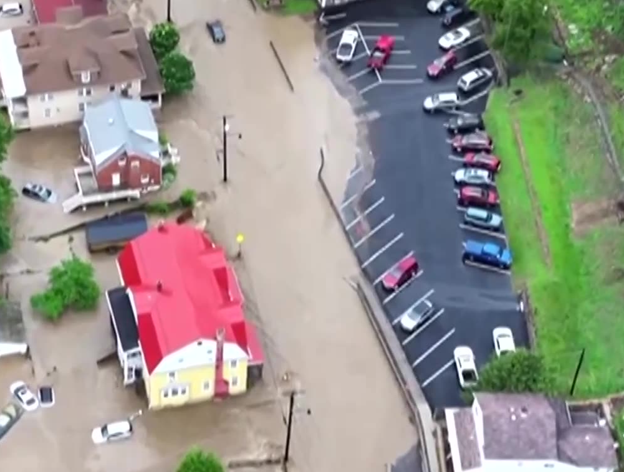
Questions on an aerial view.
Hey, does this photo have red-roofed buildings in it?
Yes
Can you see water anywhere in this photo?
Yes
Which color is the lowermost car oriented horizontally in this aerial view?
white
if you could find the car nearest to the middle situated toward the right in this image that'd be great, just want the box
[382,256,420,289]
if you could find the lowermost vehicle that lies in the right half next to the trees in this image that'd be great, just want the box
[452,345,480,391]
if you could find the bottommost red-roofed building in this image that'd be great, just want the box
[105,221,269,408]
